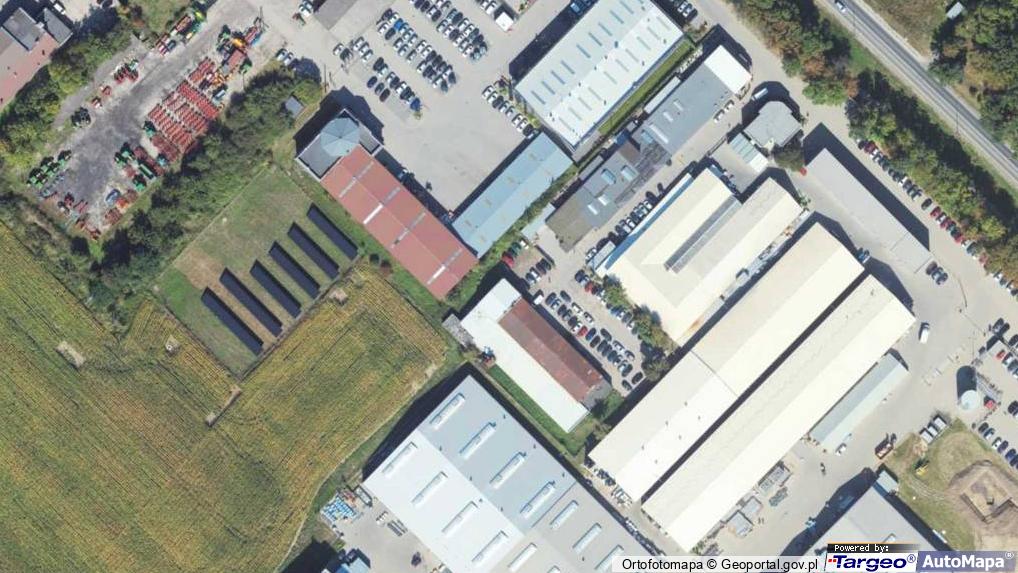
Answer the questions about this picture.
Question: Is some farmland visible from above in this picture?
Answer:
Yes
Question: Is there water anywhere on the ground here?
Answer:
No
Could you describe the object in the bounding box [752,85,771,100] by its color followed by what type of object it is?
white vehicle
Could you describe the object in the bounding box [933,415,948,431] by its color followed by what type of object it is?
white vehicle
